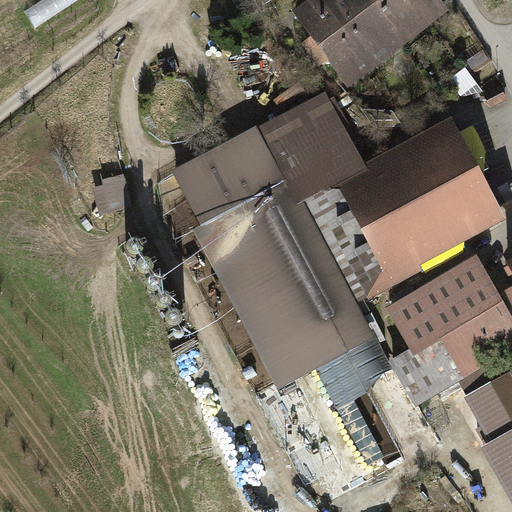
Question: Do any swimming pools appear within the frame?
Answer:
No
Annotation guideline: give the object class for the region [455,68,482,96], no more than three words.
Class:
greenhouse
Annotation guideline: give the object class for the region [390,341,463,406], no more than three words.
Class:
shed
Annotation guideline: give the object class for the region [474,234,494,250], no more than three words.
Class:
car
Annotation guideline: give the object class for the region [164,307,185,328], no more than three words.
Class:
silo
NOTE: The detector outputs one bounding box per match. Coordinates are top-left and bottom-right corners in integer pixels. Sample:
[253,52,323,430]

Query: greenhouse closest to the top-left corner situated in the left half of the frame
[24,0,76,28]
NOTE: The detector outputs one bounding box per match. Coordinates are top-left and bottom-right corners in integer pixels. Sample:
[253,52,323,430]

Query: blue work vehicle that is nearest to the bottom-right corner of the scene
[470,482,484,503]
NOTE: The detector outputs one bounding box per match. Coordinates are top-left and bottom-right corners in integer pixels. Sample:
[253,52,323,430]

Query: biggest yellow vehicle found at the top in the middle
[259,80,274,106]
